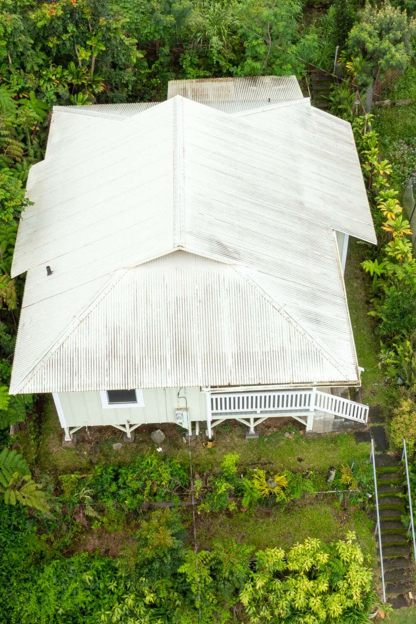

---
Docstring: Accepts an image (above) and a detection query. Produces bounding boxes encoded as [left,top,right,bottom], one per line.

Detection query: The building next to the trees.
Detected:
[7,76,376,445]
